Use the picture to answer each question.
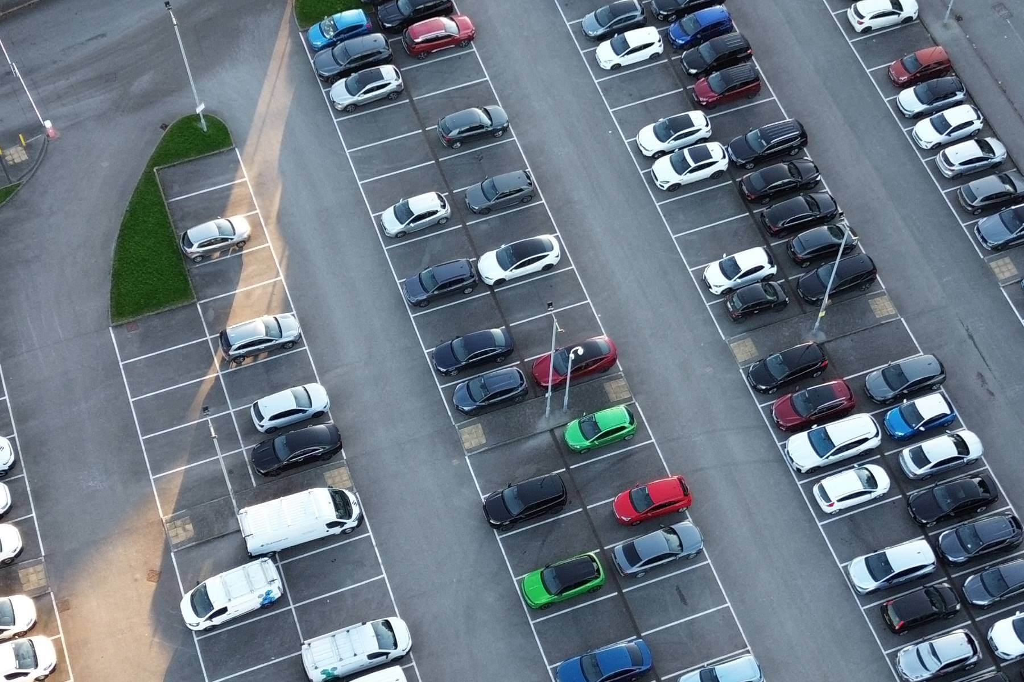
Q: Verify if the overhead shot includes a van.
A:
Yes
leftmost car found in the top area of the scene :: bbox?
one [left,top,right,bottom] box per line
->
[178,216,252,261]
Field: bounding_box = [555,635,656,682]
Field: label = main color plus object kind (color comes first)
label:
blue car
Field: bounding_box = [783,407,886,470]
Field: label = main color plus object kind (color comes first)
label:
white car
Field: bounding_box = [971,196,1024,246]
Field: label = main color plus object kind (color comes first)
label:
blue car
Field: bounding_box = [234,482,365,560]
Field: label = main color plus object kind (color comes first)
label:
white van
